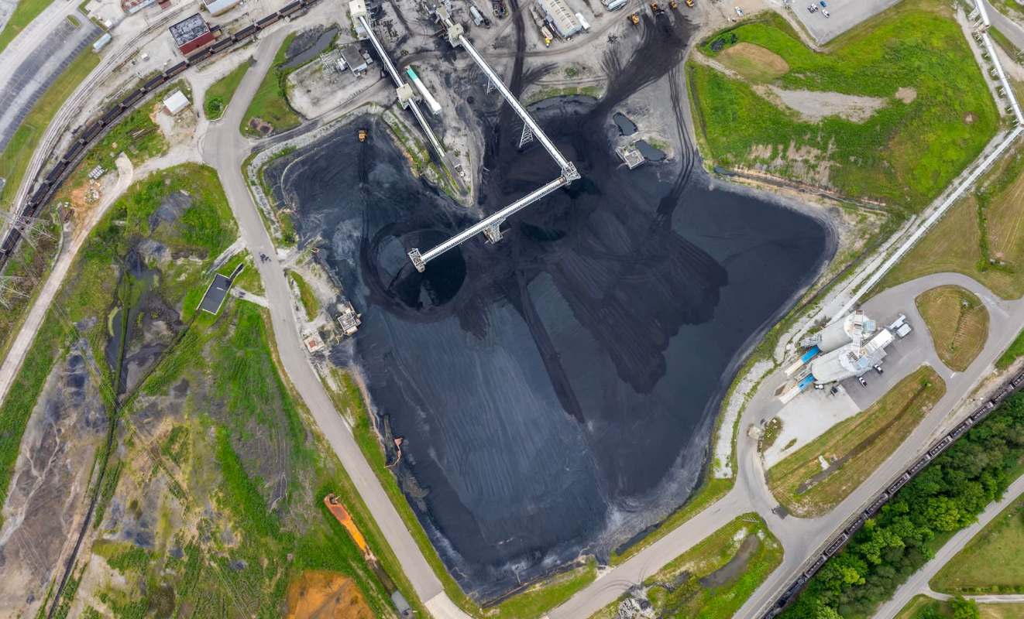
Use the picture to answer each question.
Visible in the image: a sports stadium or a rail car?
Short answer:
rail car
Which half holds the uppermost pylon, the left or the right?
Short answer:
left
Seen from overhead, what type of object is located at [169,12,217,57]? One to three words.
building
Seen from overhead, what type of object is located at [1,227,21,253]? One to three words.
rail car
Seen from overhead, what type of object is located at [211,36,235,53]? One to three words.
rail car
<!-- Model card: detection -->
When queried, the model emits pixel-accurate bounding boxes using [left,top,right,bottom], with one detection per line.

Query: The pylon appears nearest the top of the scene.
[0,209,53,246]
